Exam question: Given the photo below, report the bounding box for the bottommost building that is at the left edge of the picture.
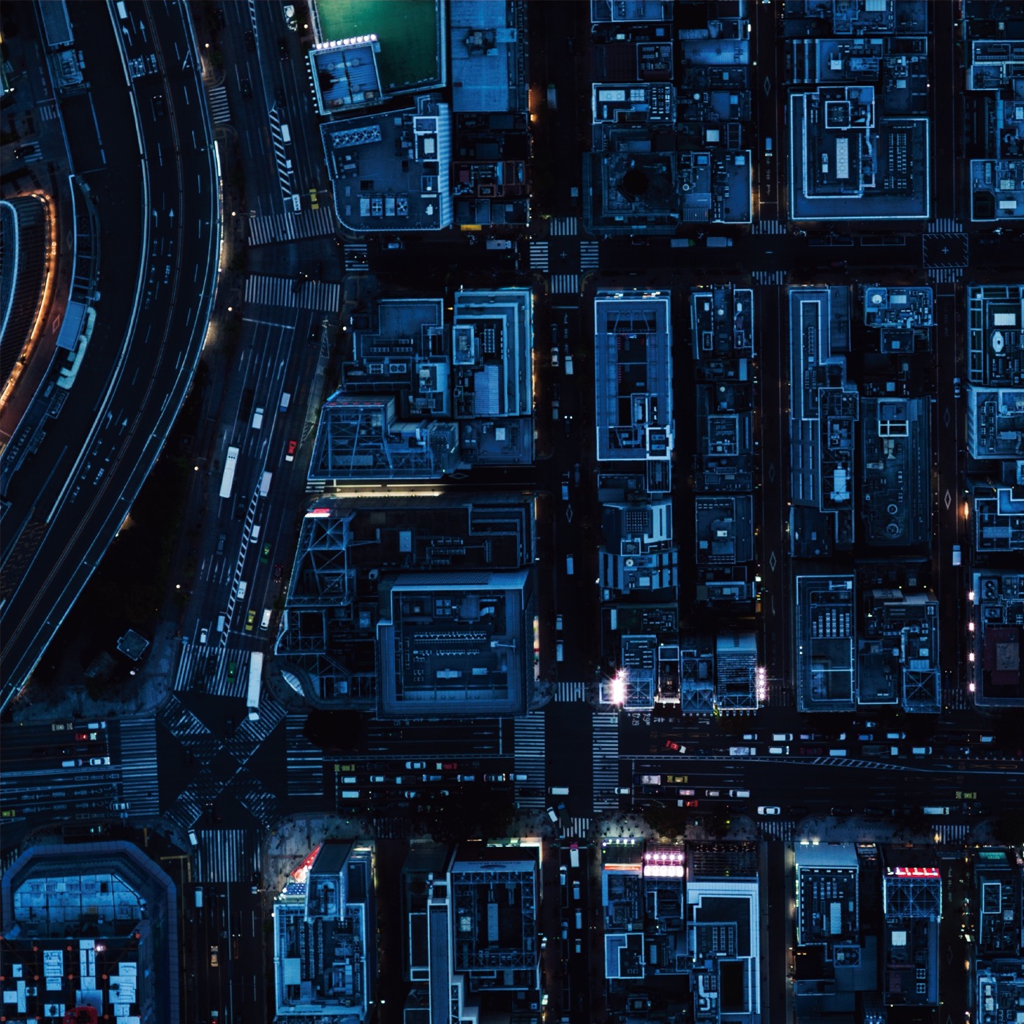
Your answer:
[0,829,187,1024]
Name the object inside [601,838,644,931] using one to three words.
building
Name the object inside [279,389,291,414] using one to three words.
vehicle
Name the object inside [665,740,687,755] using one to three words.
car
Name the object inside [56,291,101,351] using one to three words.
shed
